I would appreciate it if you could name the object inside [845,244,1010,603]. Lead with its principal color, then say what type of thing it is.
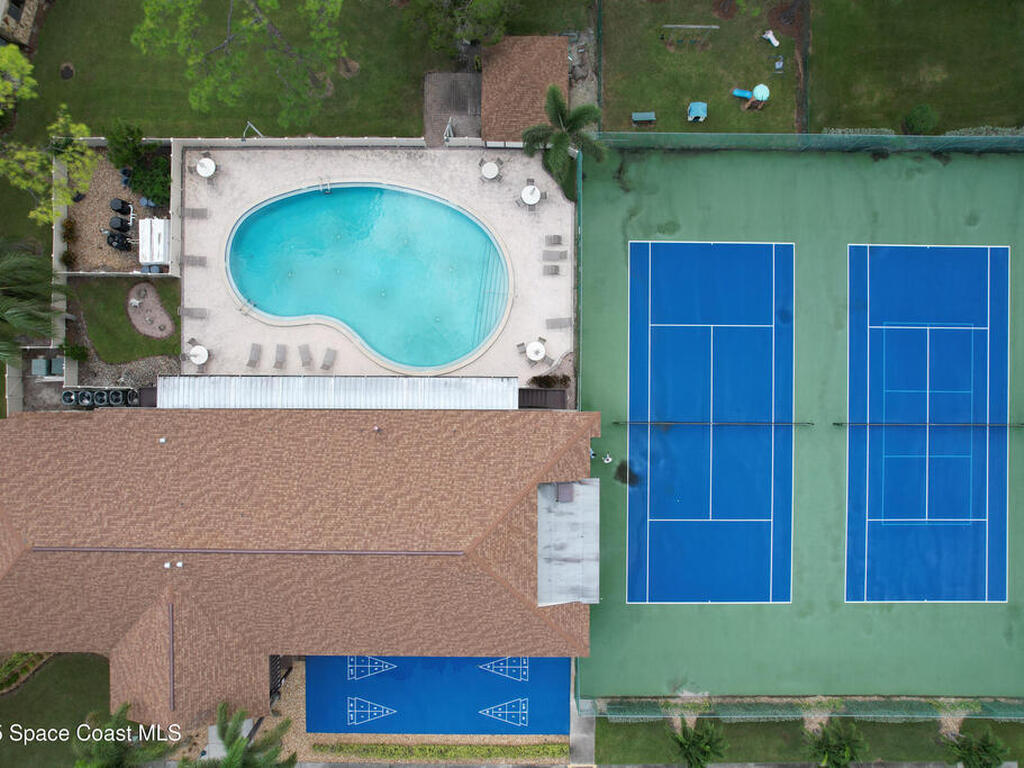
blue tennis court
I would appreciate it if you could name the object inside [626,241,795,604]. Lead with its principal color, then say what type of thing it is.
blue tennis court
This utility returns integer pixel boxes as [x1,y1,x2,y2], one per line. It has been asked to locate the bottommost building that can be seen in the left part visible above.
[0,408,600,734]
